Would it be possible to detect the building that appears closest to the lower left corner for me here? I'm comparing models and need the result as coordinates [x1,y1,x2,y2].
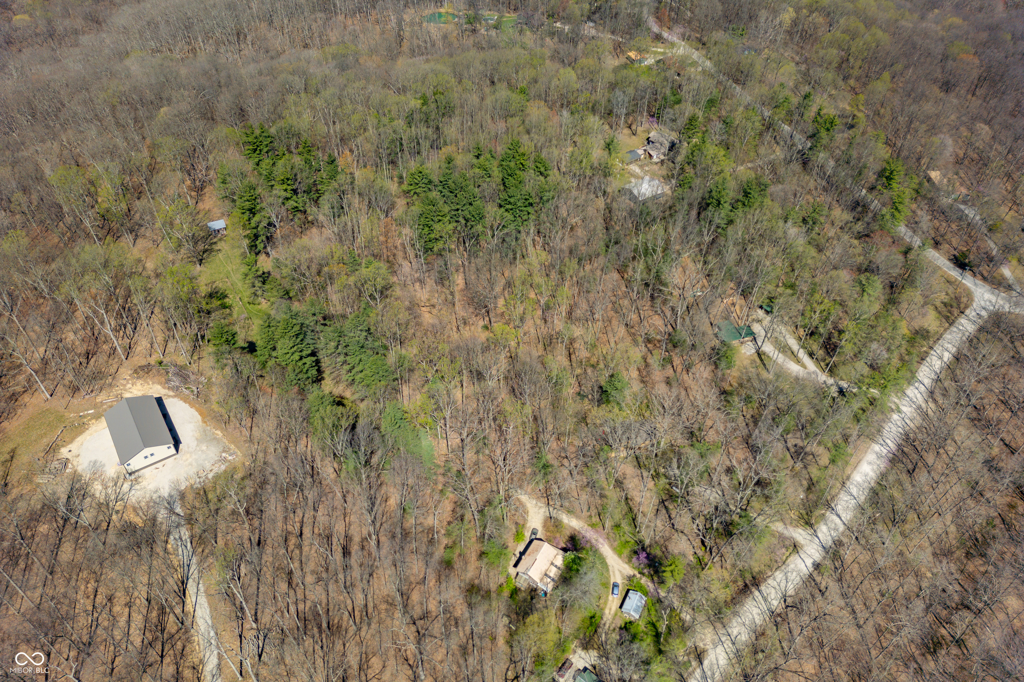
[105,393,178,472]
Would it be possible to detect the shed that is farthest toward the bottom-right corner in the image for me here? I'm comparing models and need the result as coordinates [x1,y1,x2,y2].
[622,590,646,620]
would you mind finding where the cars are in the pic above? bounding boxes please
[528,527,540,542]
[611,581,620,599]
